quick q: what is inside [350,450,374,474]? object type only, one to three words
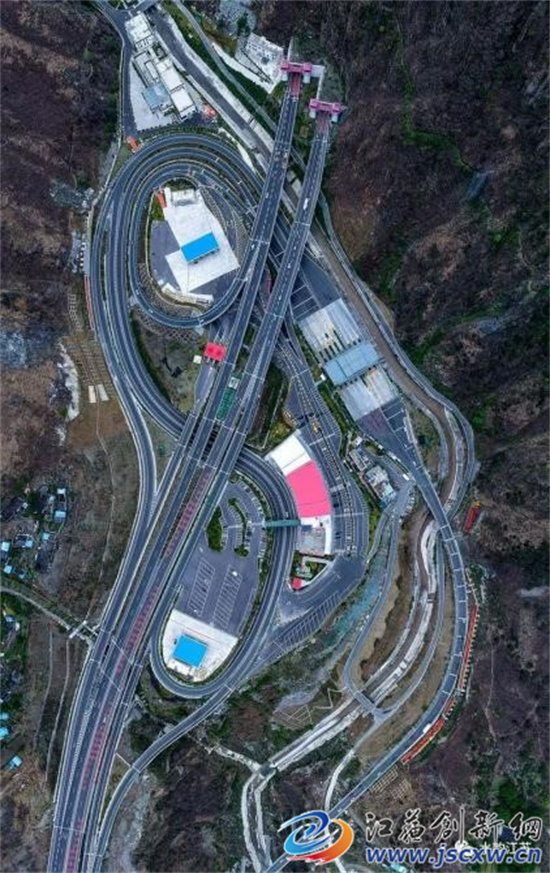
house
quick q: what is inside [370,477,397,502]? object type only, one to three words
house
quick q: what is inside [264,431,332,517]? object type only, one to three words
building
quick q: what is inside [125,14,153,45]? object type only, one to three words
building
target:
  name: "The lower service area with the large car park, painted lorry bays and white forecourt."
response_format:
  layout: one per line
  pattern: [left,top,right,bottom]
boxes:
[164,481,267,680]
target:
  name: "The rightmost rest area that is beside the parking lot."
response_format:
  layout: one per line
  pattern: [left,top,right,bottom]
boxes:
[252,330,368,668]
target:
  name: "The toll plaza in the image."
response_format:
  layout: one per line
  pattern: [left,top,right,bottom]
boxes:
[291,262,424,468]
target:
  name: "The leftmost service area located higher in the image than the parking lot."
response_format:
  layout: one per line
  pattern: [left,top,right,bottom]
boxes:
[148,188,240,304]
